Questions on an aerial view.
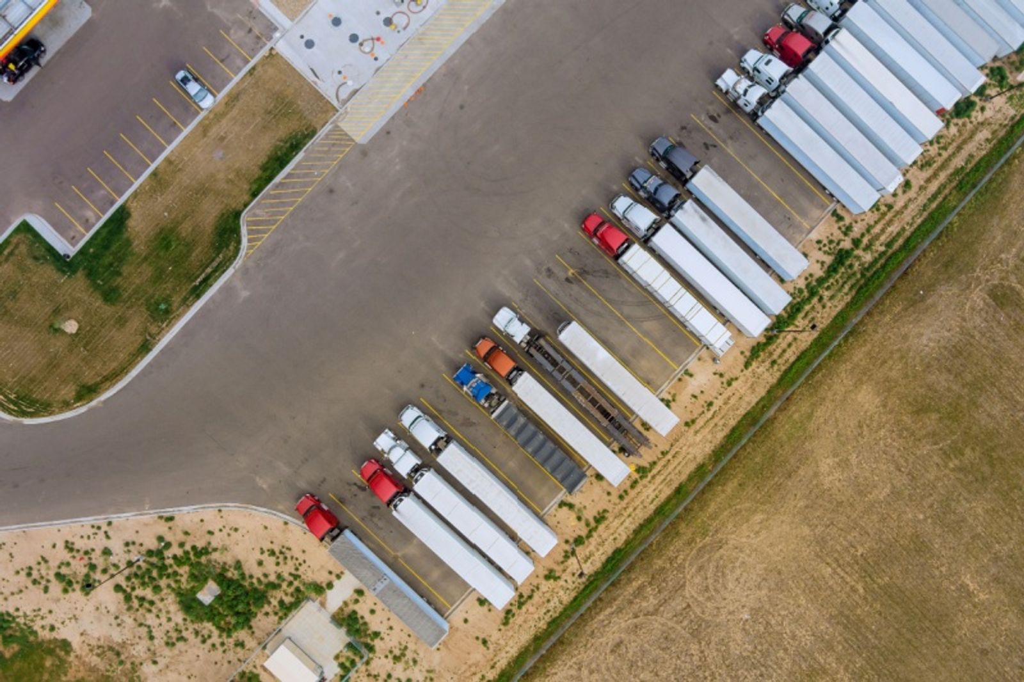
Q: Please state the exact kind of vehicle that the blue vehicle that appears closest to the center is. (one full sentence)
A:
In the photo, the blue vehicle that appears closest to the center shows up as a truck.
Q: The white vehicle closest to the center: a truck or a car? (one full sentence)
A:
It looks like the white vehicle closest to the center is a truck.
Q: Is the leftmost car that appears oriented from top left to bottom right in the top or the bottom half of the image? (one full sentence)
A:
You can find the leftmost car that appears oriented from top left to bottom right in the top half.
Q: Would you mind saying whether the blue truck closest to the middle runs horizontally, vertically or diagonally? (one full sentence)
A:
I'd say the blue truck closest to the middle is aligned diagonally in the picture.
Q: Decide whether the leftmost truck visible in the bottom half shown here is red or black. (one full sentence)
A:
In this view, the leftmost truck visible in the bottom half is red.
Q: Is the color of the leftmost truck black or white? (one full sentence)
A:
The leftmost truck looks black in the image.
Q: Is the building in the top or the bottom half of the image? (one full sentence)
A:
The building is in the bottom half of the image.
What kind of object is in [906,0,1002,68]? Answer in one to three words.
trailer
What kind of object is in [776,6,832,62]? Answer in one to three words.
truck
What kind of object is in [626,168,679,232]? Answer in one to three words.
truck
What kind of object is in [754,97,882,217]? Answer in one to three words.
trailer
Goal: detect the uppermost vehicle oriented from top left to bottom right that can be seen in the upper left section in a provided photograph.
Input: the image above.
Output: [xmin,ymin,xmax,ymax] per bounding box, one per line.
[176,68,213,108]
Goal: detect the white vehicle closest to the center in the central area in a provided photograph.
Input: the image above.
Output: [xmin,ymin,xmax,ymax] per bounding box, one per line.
[493,307,549,362]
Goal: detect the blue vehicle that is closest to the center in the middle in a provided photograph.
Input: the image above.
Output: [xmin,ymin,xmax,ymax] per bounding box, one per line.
[454,364,514,413]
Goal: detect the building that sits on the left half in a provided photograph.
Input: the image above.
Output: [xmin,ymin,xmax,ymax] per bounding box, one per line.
[265,635,335,682]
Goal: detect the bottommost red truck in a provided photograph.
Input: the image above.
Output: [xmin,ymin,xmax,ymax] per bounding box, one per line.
[298,493,365,540]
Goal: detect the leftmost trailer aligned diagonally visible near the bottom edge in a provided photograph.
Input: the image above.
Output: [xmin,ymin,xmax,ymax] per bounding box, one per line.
[328,527,450,649]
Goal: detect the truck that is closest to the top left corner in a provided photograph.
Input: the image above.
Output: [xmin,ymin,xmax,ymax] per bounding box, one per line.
[0,45,48,87]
